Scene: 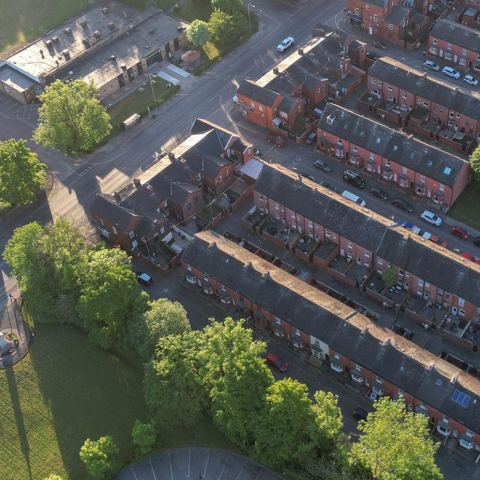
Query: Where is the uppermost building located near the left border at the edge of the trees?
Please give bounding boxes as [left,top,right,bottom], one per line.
[0,0,191,118]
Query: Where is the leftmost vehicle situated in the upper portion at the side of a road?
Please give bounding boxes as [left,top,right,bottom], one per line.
[149,147,172,164]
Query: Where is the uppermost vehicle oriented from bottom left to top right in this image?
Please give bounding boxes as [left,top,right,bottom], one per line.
[277,36,296,51]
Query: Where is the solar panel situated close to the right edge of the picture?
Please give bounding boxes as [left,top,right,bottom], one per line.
[449,393,471,413]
